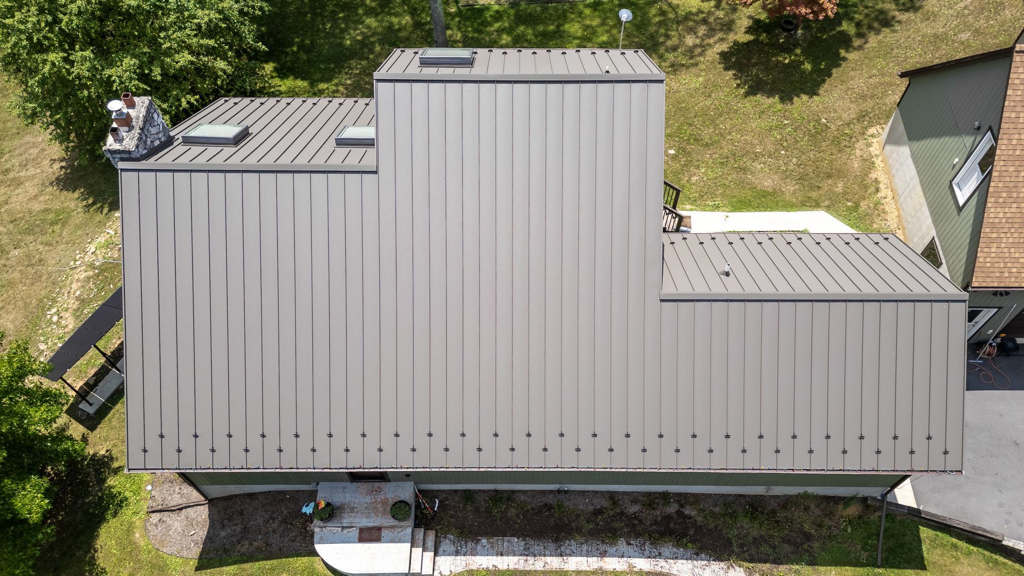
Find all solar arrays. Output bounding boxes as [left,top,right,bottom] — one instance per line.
[38,283,122,406]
